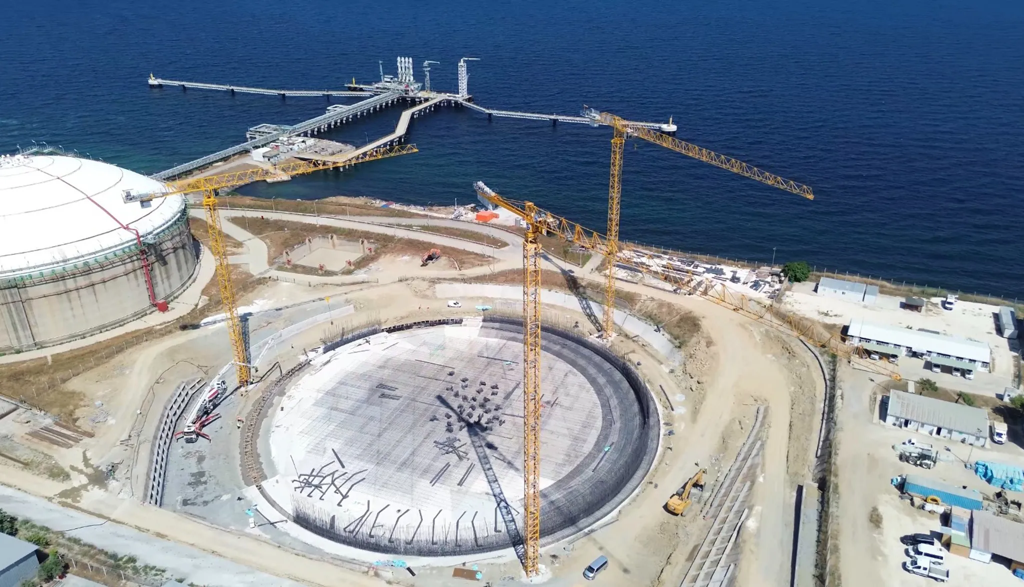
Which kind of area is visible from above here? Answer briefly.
industrial area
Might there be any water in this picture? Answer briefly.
Yes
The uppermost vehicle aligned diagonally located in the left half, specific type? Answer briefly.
truck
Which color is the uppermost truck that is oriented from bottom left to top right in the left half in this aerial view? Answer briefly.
white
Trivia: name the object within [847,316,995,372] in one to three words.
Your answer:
building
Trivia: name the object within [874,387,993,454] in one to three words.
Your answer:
building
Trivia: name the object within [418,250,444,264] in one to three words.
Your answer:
work vehicle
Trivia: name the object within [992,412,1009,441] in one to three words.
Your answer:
vehicle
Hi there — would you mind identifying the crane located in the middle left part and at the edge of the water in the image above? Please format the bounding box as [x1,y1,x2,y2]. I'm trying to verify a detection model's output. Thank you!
[120,140,420,394]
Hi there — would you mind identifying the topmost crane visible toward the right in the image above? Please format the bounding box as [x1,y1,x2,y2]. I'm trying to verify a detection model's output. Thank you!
[586,104,818,344]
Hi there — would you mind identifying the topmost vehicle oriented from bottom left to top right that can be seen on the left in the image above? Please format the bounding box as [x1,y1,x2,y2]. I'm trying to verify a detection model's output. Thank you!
[179,341,279,425]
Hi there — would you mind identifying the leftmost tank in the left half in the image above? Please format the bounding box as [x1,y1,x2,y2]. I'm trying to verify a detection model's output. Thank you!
[0,140,198,348]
